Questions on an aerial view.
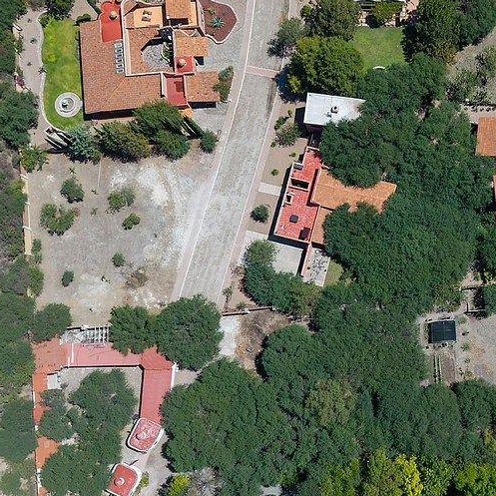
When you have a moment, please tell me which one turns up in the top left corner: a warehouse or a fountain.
fountain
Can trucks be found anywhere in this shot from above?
No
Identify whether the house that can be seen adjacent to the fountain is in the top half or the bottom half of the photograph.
top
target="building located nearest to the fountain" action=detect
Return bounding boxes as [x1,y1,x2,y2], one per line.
[80,0,221,117]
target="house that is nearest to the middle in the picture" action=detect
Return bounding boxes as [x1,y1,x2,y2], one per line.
[275,146,398,287]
